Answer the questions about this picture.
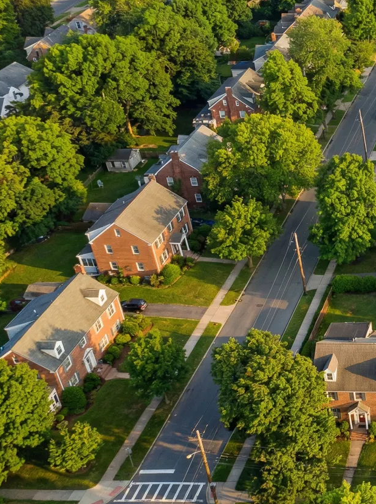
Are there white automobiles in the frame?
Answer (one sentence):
No, the scene contains no white automobile.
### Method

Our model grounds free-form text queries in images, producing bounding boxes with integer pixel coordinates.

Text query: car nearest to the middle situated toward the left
[118,294,153,311]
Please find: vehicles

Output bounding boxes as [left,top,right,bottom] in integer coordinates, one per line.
[118,294,153,311]
[5,294,30,312]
